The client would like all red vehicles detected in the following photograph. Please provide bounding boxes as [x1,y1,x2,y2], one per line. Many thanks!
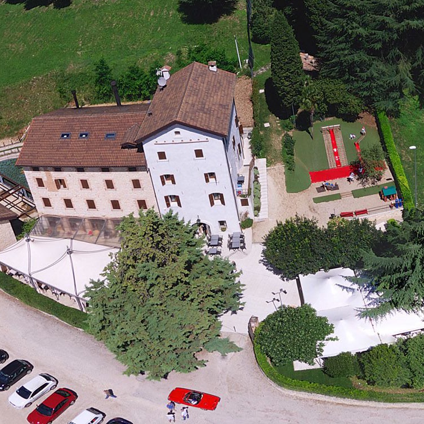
[25,389,81,424]
[170,387,223,417]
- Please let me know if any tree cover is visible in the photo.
Yes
